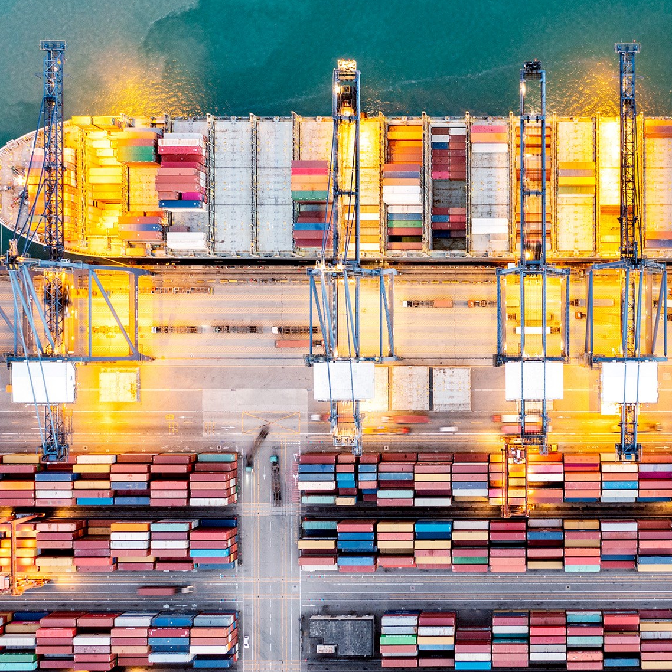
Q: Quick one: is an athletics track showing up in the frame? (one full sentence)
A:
No, the scene contains no athletics track.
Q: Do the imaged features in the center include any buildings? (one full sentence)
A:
No, there is no building in the center.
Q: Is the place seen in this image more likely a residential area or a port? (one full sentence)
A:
What you see here is a port.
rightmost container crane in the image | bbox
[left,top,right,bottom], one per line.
[572,38,670,459]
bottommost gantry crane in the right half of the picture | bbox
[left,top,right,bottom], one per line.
[497,431,534,518]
